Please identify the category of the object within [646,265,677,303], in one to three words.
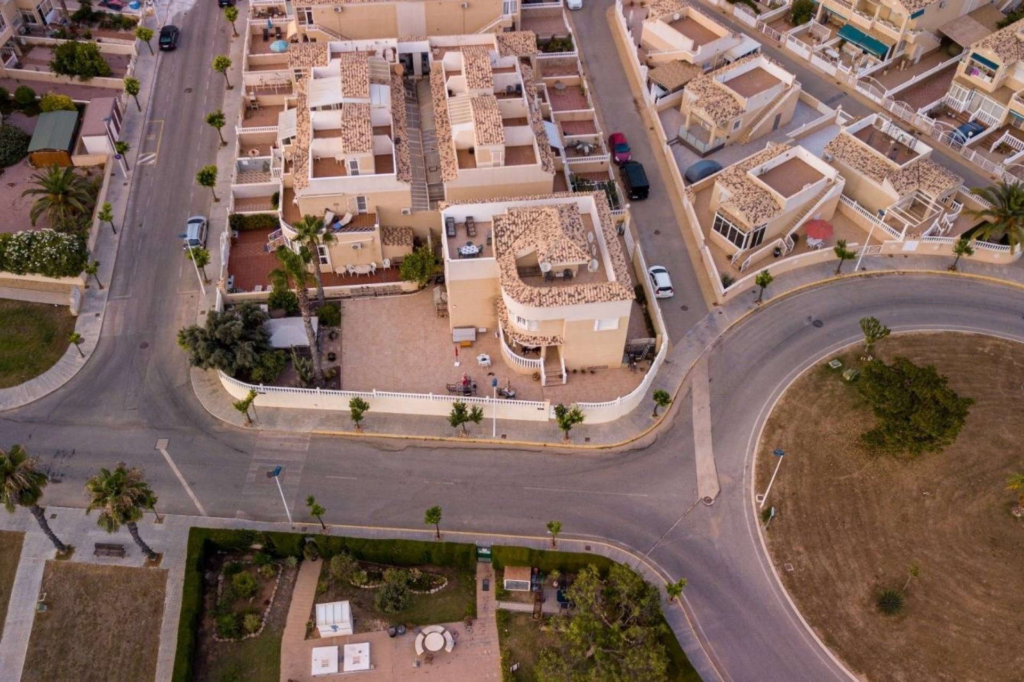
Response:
car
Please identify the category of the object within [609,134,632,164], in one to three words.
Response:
car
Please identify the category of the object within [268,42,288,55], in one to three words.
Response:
umbrella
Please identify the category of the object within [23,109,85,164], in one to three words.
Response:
shed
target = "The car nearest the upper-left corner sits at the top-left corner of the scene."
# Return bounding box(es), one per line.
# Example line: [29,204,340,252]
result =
[157,25,180,51]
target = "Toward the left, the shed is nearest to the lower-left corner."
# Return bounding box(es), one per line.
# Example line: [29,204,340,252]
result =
[314,588,353,637]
